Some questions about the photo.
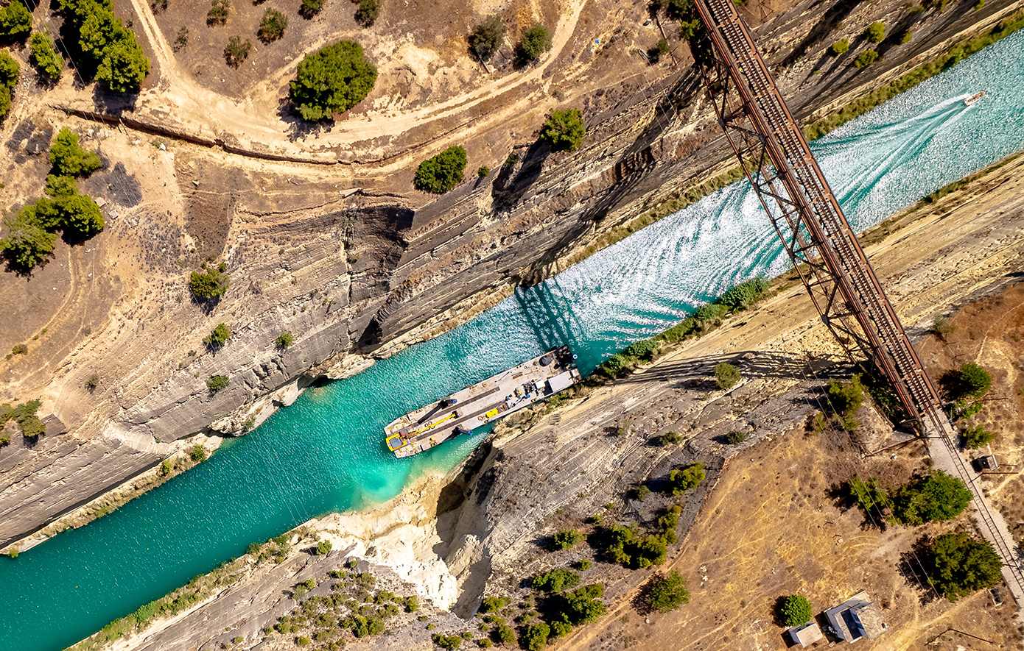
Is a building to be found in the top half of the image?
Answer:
No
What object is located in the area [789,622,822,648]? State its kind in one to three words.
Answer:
shed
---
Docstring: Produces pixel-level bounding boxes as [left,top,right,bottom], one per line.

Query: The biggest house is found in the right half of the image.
[816,588,888,644]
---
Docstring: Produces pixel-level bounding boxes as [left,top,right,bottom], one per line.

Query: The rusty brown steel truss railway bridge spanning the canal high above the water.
[698,0,942,416]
